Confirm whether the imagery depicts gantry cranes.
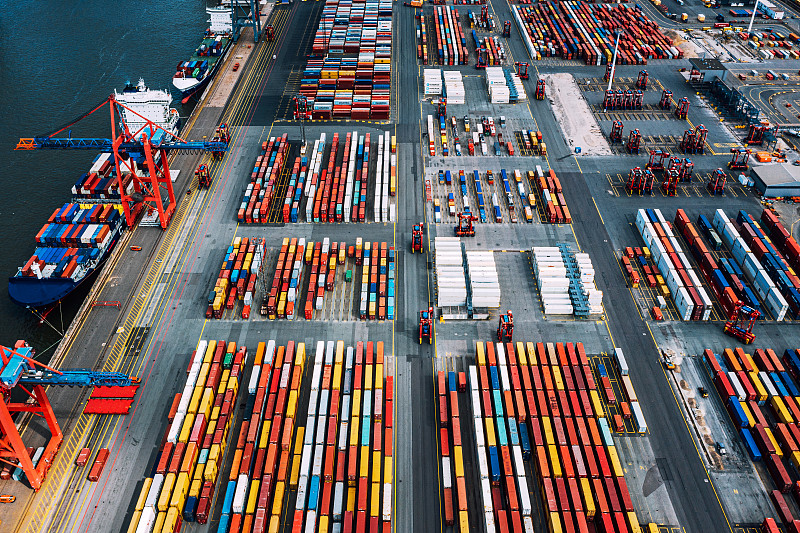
Yes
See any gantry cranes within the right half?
No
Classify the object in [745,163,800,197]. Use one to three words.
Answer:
shed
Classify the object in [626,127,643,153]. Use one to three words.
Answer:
work vehicle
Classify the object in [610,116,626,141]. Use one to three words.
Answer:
work vehicle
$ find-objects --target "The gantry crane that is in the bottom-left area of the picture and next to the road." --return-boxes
[0,341,134,492]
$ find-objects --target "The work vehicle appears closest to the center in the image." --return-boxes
[412,219,425,252]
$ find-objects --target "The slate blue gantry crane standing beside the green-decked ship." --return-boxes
[227,0,262,42]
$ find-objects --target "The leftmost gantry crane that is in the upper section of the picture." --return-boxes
[10,91,230,230]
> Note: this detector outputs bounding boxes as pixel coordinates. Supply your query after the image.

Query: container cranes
[0,341,134,492]
[227,0,262,42]
[10,91,230,230]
